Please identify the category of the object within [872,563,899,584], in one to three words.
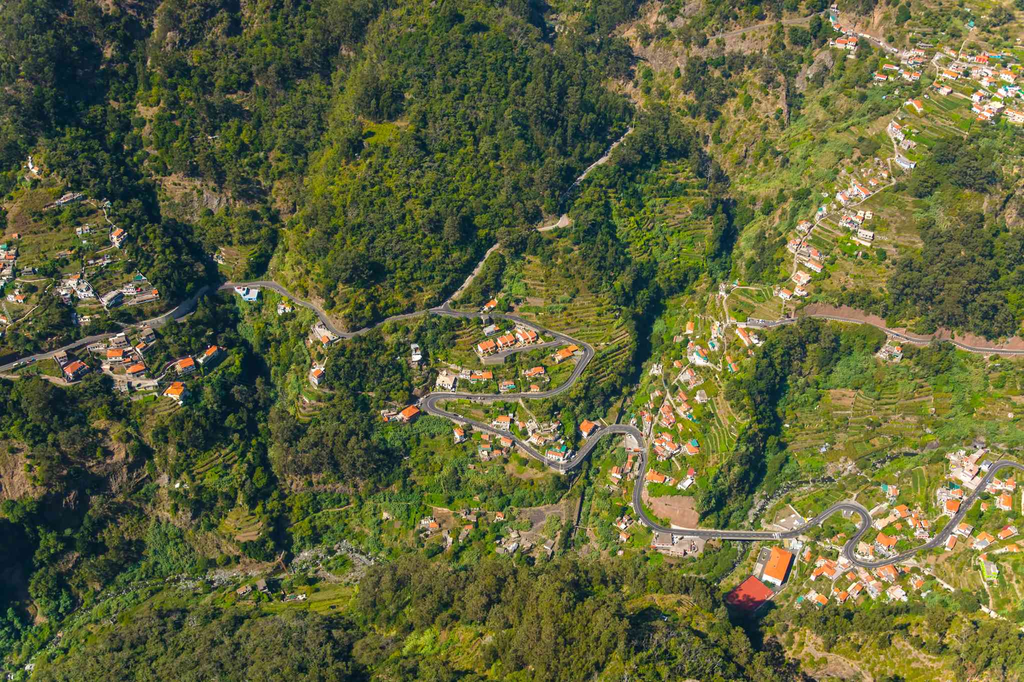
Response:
house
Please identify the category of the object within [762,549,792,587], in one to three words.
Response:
building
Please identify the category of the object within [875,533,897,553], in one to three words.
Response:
house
